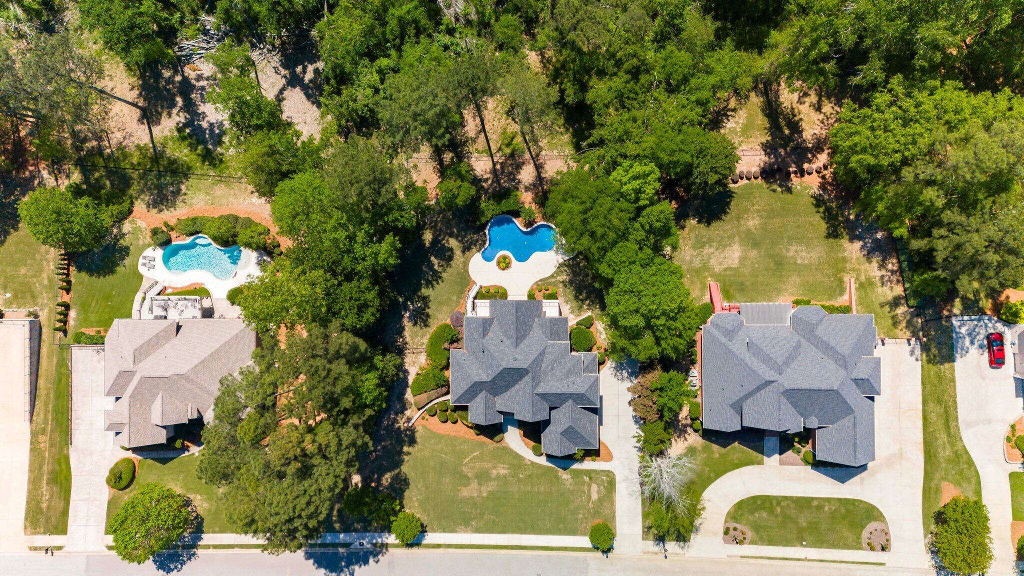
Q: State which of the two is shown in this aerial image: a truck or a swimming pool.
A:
swimming pool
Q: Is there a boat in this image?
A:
No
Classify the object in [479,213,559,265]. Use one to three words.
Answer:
swimming pool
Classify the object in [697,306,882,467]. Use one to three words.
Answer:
house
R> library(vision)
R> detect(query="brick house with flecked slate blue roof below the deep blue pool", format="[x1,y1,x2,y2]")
[450,300,599,457]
